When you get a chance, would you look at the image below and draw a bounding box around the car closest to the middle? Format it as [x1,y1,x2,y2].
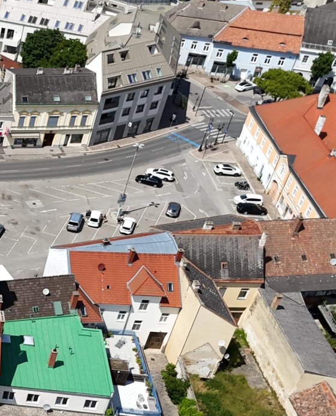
[167,206,182,219]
